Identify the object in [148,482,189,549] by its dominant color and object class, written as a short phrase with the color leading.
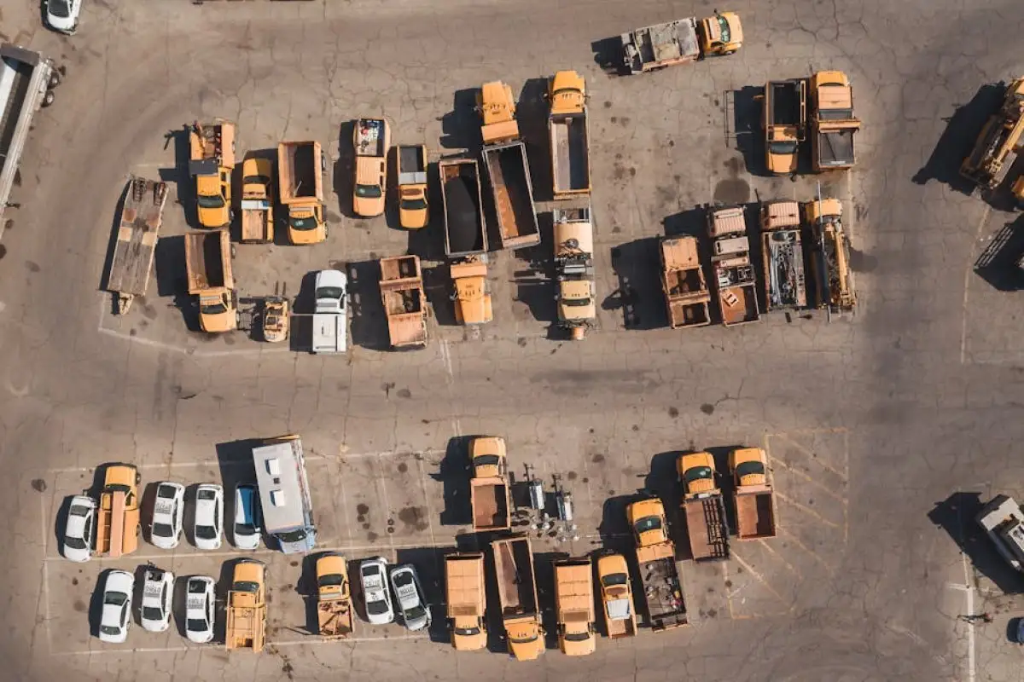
white car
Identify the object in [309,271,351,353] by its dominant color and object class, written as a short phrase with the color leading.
white truck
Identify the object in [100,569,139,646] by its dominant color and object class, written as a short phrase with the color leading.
white car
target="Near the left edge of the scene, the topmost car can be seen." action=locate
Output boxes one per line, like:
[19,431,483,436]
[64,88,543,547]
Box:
[47,0,84,34]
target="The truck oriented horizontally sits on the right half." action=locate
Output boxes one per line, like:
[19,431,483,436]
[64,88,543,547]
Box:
[623,9,743,72]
